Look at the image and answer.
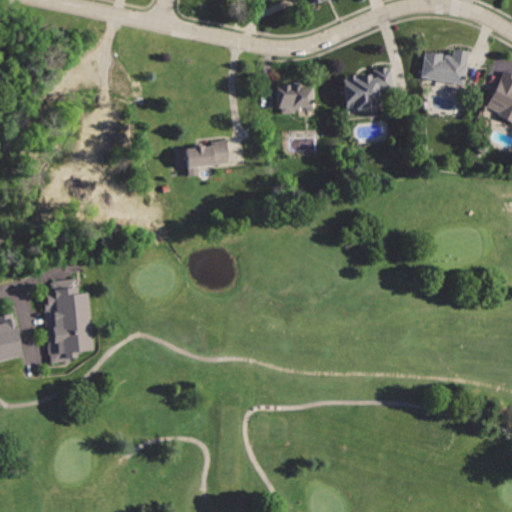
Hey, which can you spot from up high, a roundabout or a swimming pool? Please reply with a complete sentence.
There is a swimming pool in the scene.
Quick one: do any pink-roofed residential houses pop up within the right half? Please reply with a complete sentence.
No, no pink-roofed residential house appears within the right half.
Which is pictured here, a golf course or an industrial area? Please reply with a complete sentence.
This image shows a golf course.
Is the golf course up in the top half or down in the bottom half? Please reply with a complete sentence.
Seen from above, the golf course lies in the bottom half of the view.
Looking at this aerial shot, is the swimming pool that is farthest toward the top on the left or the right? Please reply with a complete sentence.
You can find the swimming pool that is farthest toward the top on the right side of the picture.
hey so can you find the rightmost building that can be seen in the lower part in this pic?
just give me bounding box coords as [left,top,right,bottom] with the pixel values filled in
[44,281,92,364]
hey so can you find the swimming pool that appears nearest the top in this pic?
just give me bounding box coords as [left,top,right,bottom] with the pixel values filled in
[424,82,464,116]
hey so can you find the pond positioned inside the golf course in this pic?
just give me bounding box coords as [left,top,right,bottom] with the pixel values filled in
[188,248,236,289]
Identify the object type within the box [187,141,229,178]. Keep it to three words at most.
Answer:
house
